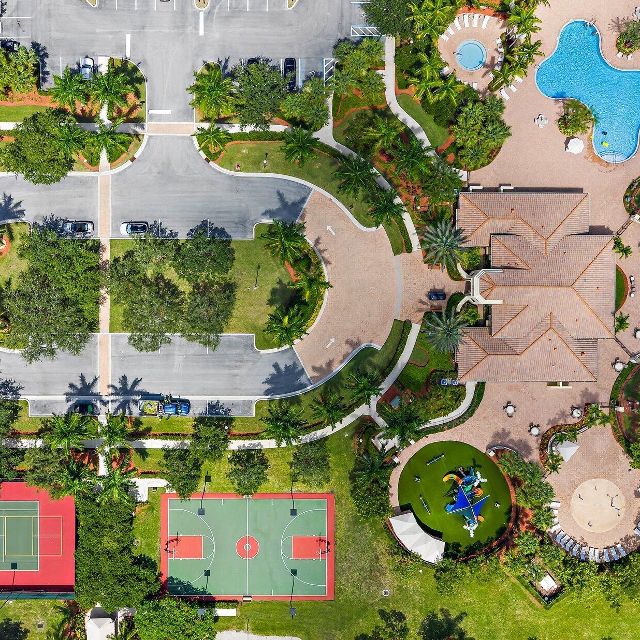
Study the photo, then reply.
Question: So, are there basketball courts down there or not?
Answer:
Yes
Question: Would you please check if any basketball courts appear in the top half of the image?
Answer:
No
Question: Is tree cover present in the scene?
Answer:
Yes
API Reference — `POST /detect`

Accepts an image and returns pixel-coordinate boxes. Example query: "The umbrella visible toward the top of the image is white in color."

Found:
[566,138,584,154]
